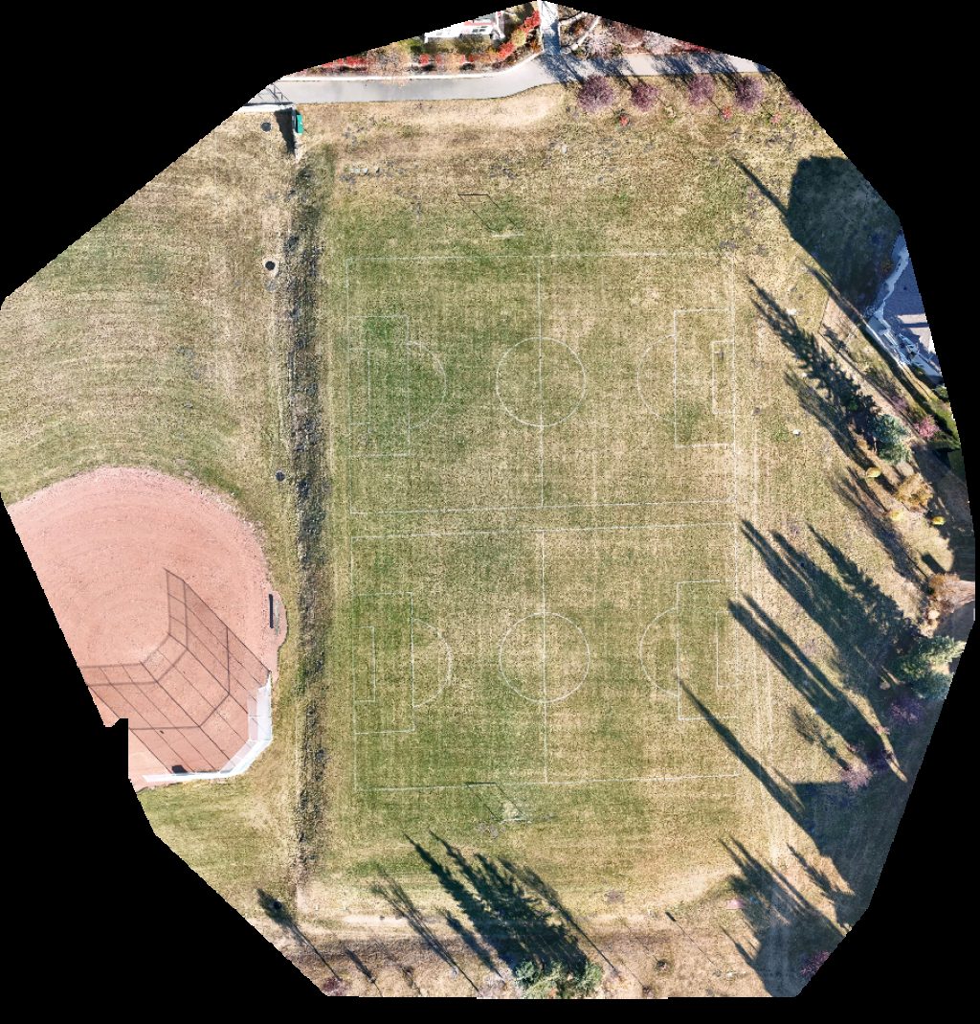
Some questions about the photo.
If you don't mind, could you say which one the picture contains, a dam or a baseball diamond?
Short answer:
baseball diamond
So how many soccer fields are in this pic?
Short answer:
two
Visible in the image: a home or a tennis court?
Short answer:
home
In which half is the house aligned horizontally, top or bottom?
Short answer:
top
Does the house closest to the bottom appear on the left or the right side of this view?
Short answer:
right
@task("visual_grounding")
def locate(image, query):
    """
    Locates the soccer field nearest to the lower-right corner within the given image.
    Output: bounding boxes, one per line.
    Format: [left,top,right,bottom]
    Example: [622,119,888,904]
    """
[349,521,742,793]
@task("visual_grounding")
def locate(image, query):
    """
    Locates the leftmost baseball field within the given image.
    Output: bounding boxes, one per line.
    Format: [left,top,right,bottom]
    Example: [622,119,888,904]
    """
[7,467,287,791]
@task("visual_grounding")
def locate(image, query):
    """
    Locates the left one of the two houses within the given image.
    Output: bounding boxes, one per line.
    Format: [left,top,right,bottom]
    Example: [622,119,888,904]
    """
[422,11,507,41]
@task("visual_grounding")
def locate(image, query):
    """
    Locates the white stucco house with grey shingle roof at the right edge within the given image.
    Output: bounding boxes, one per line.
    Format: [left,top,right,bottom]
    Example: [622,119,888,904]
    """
[862,238,944,375]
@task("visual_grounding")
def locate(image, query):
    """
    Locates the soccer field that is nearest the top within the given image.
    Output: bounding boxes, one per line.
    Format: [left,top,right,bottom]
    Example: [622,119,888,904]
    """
[344,250,739,516]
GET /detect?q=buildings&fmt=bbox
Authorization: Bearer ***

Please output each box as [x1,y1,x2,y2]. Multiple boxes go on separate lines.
[862,238,944,375]
[422,11,507,41]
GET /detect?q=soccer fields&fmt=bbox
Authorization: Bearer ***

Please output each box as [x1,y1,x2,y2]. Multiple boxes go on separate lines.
[344,250,739,516]
[349,521,742,793]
